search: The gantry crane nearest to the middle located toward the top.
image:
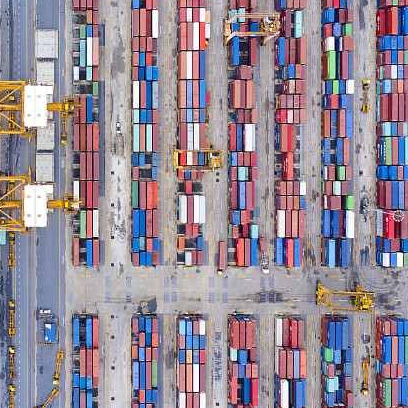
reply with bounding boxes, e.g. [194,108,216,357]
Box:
[173,145,224,174]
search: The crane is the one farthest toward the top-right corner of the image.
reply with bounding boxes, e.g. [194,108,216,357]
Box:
[224,12,279,47]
